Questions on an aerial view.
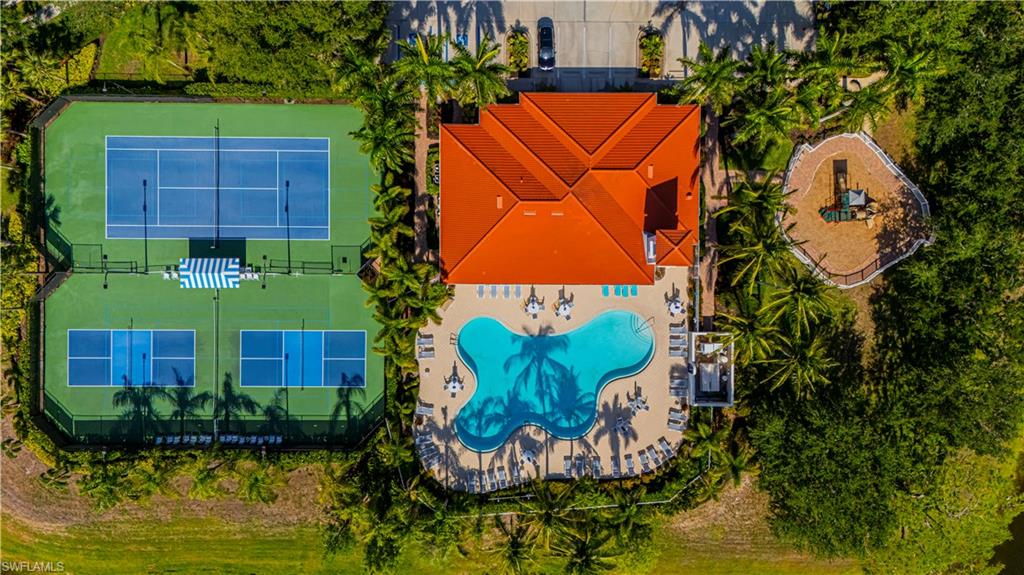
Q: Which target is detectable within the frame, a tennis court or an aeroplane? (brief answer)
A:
tennis court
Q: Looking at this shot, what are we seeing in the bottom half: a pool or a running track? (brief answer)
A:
pool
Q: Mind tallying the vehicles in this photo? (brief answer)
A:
one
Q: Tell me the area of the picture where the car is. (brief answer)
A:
top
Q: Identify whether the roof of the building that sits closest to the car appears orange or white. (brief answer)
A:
orange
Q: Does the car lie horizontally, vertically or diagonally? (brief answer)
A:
vertically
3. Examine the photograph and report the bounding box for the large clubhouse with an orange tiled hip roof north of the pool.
[439,92,702,285]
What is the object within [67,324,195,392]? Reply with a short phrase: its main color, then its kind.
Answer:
blue sports court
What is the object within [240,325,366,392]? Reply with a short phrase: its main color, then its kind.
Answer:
blue sports court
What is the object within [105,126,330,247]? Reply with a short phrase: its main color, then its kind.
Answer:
blue tennis court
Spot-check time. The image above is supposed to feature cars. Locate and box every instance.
[536,19,557,69]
